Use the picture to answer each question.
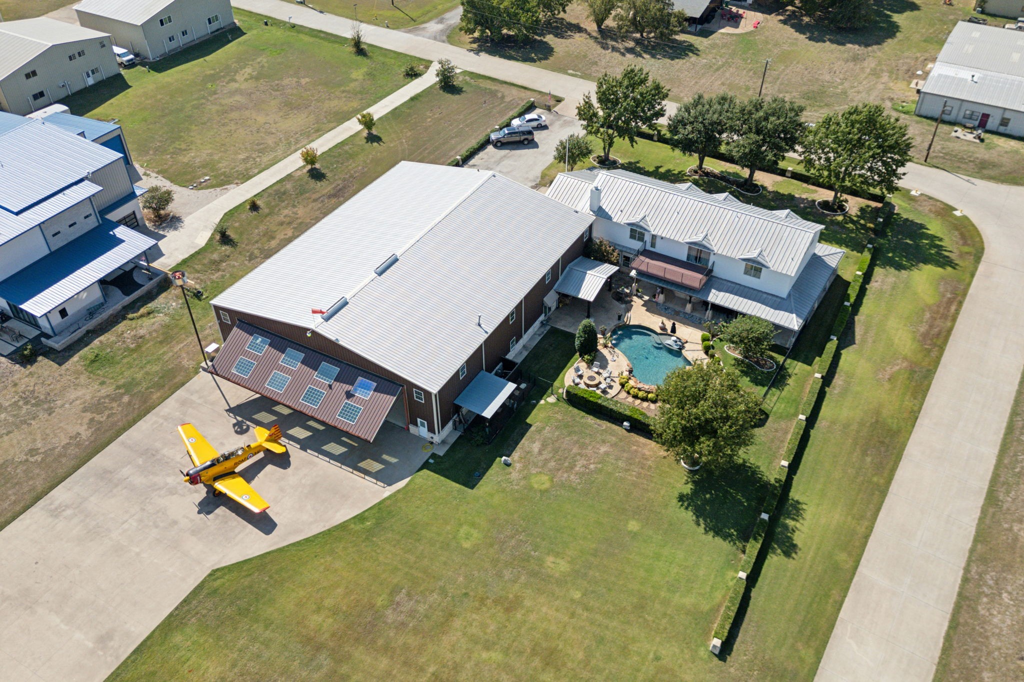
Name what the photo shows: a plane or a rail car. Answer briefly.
plane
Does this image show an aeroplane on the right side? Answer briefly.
No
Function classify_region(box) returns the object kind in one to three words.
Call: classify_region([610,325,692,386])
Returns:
swimming pool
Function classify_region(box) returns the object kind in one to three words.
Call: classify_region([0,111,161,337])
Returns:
house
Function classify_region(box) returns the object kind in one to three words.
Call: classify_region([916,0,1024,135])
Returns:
barn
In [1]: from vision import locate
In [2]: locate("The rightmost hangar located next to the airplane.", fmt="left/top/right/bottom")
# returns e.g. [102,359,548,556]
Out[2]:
[204,160,595,450]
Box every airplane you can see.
[172,424,288,514]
